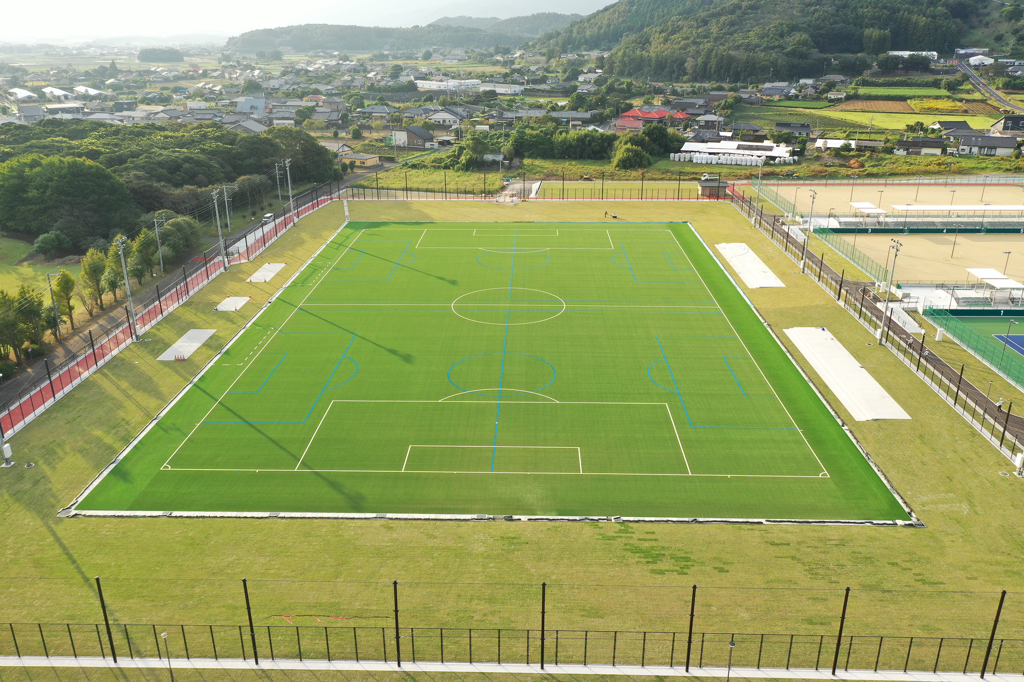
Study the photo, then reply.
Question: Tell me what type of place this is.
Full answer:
What you see here is a sports ground.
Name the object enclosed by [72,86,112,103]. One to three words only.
barn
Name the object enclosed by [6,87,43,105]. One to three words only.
barn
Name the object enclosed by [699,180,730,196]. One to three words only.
shed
